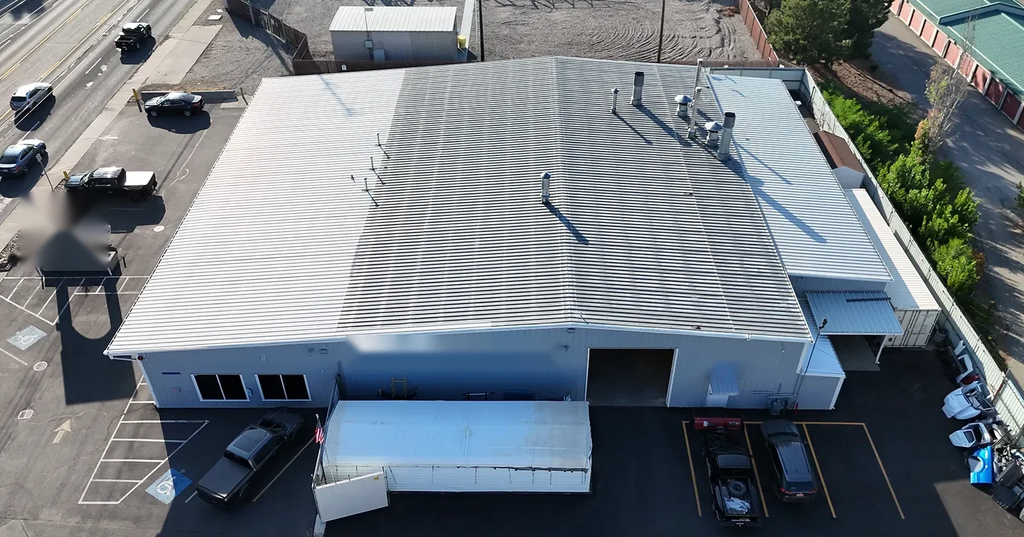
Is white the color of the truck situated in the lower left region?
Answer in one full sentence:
No, the color of the truck situated in the lower left region is black.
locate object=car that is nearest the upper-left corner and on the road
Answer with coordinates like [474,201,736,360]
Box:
[6,84,57,116]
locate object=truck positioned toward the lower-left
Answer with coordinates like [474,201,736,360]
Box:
[193,406,322,520]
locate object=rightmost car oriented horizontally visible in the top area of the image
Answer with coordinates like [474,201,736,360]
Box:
[138,88,211,115]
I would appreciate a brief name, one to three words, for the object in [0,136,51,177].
car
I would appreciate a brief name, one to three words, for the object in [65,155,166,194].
truck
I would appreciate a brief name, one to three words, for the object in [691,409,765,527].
truck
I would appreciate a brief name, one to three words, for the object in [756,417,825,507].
car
